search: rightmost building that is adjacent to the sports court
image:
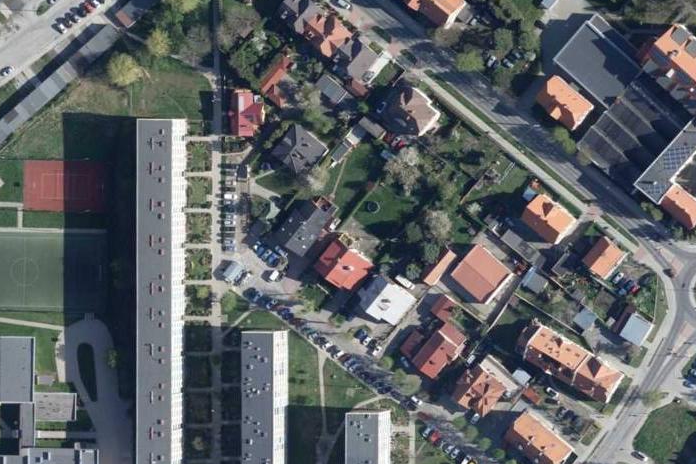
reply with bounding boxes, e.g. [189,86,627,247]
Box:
[131,117,192,464]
